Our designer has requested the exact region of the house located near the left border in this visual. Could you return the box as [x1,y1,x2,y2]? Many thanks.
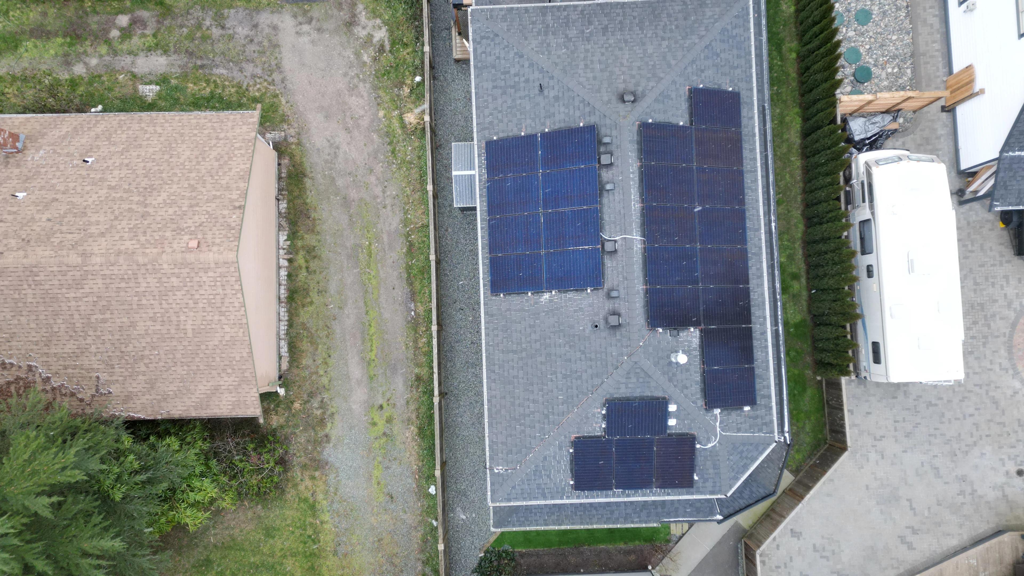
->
[0,108,285,426]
